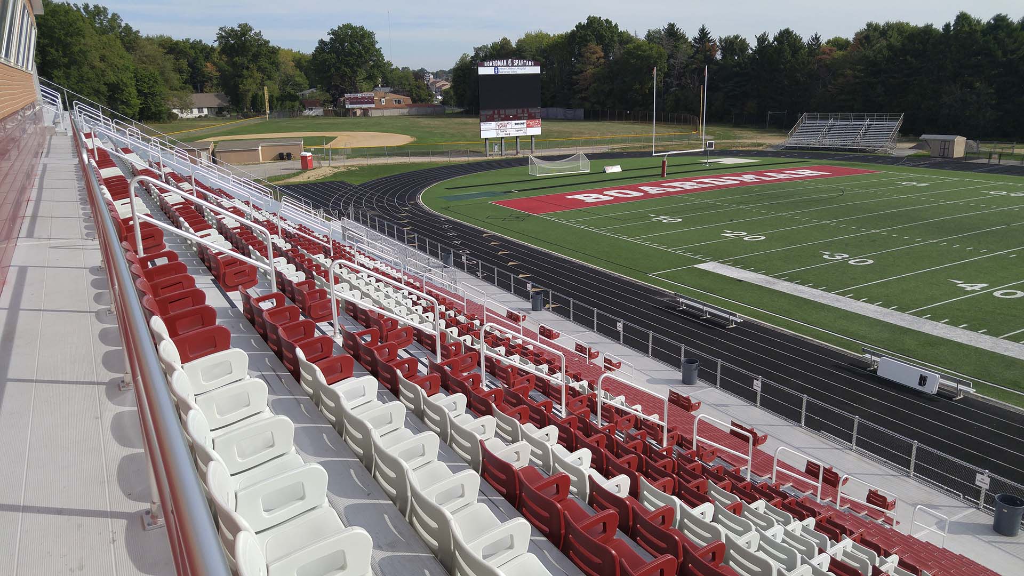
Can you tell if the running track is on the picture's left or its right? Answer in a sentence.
The running track sits on the right side.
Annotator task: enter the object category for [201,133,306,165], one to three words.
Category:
building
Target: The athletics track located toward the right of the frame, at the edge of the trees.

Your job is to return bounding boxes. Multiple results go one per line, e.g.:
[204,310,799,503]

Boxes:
[332,150,1024,524]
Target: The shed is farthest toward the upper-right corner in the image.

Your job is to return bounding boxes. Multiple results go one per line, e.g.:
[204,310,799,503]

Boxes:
[921,132,970,157]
